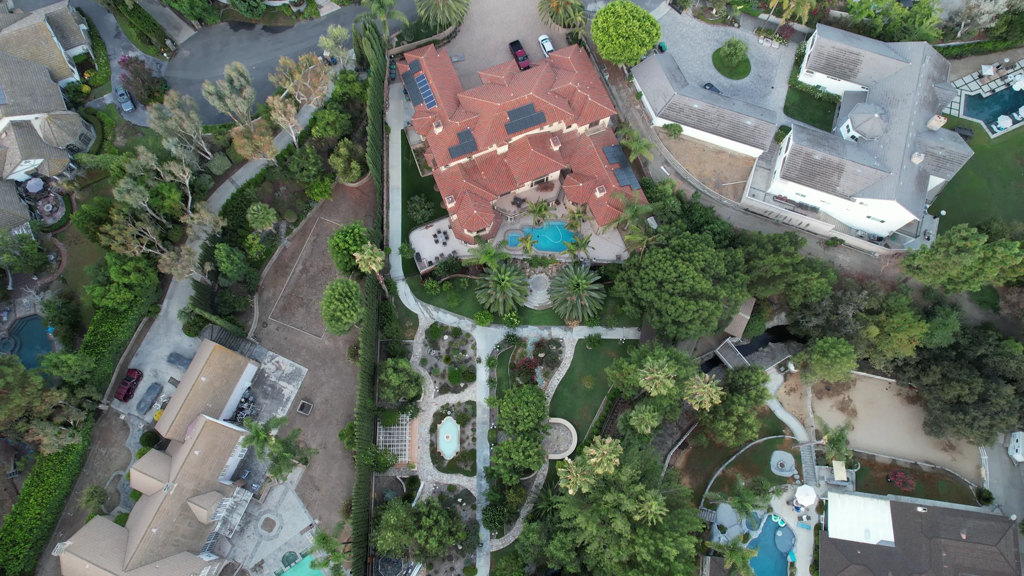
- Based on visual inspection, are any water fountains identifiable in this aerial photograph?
Yes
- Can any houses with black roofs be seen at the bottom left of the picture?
No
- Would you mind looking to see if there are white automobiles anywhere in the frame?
Yes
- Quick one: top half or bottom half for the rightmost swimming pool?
top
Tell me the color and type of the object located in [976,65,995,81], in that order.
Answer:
white umbrella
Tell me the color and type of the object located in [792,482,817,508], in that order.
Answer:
white umbrella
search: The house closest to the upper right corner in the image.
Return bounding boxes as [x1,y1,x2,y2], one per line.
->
[770,23,974,232]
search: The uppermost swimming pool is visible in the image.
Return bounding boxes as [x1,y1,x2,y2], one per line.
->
[966,85,1024,130]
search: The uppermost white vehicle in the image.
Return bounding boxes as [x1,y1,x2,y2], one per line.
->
[539,31,555,59]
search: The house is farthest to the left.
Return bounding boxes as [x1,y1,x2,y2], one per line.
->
[0,0,97,233]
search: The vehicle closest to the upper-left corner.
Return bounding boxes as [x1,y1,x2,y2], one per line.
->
[111,80,134,112]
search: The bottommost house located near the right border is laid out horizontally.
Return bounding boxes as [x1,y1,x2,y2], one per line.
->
[811,487,1022,576]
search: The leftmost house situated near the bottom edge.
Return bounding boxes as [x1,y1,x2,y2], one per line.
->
[53,414,247,576]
